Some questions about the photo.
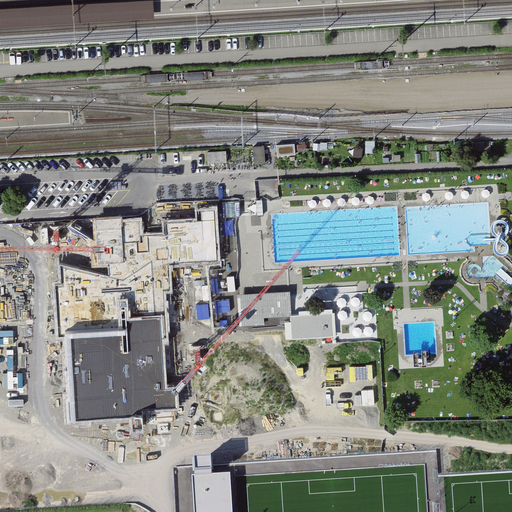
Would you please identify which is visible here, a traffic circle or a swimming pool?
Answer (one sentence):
Visible in the photo is a swimming pool.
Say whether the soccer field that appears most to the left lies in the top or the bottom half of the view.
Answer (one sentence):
Seen from above, the soccer field that appears most to the left lies in the bottom half of the view.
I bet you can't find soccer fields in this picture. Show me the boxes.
[246,464,426,512]
[444,473,512,512]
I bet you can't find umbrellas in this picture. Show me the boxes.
[422,192,431,202]
[444,190,454,200]
[350,296,361,307]
[351,196,360,206]
[336,296,348,308]
[337,310,348,320]
[365,196,374,205]
[337,198,346,206]
[362,310,373,322]
[308,198,317,208]
[322,198,332,208]
[352,326,362,338]
[480,188,490,198]
[460,190,470,200]
[362,326,374,336]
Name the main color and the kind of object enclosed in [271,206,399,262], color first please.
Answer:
blue swimming pool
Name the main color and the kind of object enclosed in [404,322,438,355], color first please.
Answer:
blue swimming pool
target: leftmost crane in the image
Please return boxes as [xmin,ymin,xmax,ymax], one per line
[0,226,114,256]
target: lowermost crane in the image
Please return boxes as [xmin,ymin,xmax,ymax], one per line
[172,248,302,394]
